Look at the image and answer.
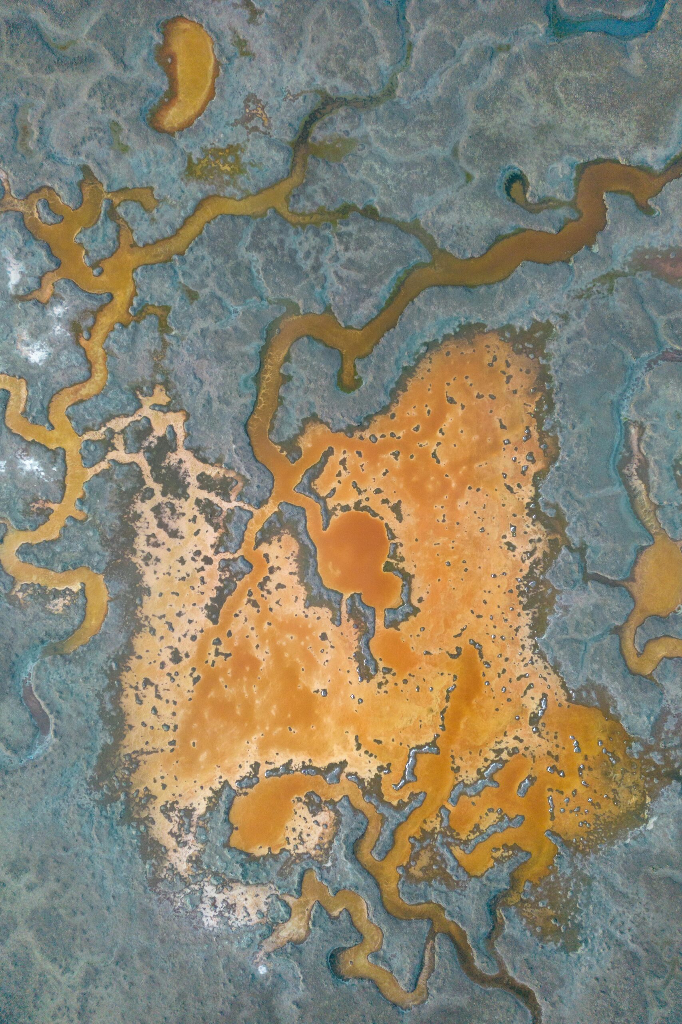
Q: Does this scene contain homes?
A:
No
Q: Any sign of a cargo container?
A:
No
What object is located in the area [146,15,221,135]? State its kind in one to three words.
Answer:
pond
